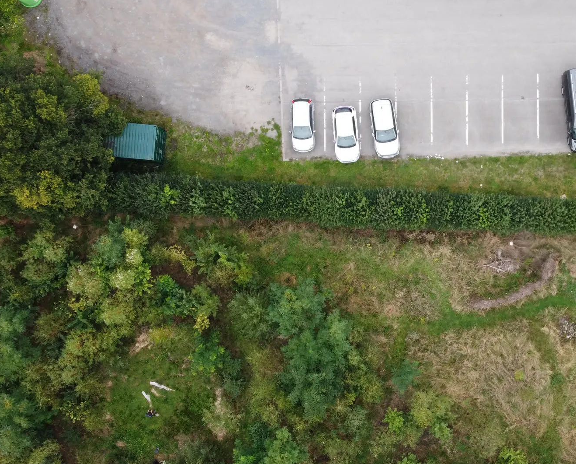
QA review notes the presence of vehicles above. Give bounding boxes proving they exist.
[287,98,317,153]
[562,67,576,156]
[330,107,362,165]
[369,100,400,159]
